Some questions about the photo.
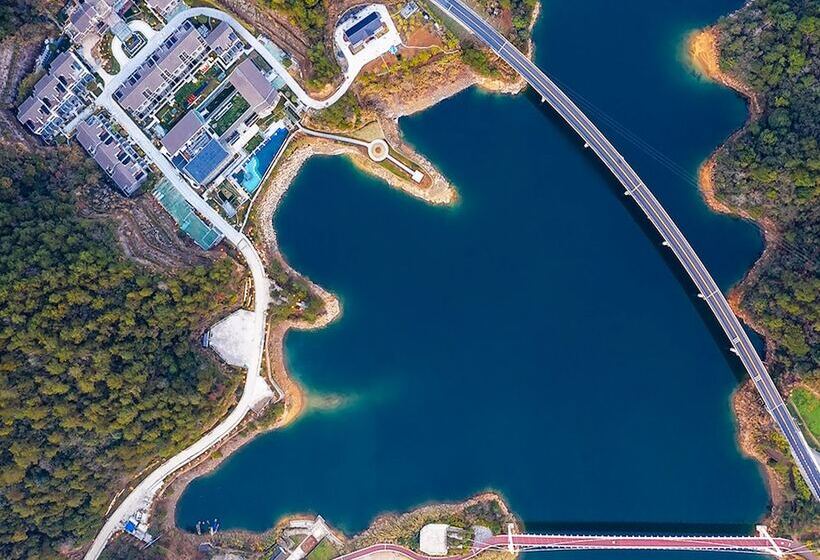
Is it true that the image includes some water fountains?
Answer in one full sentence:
Yes, I can see a water fountain in this picture.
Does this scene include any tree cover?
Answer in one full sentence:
Yes, there's tree cover in this view.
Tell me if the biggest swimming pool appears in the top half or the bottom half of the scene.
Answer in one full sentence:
Seen from above, the biggest swimming pool lies in the top half of the view.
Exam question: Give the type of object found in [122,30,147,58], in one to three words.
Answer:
fountain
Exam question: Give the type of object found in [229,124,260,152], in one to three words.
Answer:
building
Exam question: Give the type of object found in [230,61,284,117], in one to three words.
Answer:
building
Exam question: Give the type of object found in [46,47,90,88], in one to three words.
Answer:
house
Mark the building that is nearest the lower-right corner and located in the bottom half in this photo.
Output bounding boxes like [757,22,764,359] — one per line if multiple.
[420,522,450,554]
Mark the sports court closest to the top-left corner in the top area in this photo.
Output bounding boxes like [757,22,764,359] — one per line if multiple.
[151,180,192,224]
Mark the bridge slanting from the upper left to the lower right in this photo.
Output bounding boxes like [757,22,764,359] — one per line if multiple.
[445,0,786,411]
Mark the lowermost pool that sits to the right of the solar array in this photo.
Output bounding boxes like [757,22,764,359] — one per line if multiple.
[232,127,290,194]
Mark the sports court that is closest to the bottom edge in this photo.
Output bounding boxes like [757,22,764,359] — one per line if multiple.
[179,210,219,249]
